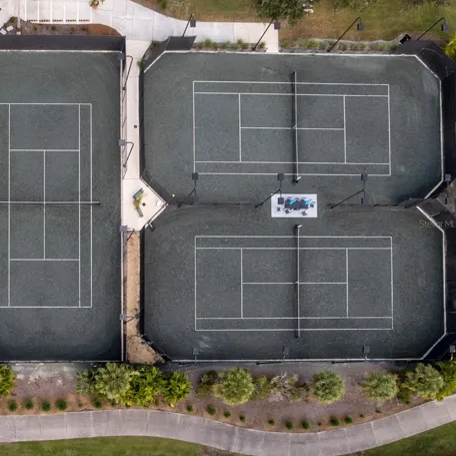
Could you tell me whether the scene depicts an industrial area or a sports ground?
sports ground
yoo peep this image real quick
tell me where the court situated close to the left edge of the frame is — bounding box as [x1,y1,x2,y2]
[0,49,123,362]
